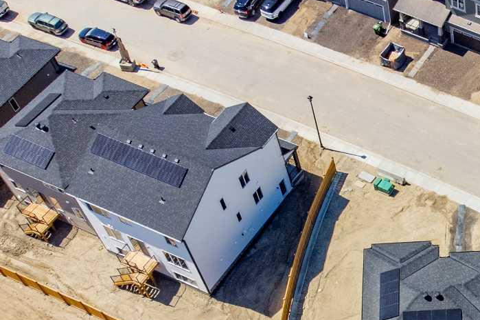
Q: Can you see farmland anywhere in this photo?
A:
No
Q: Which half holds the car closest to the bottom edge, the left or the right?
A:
left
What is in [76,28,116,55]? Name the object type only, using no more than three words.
car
